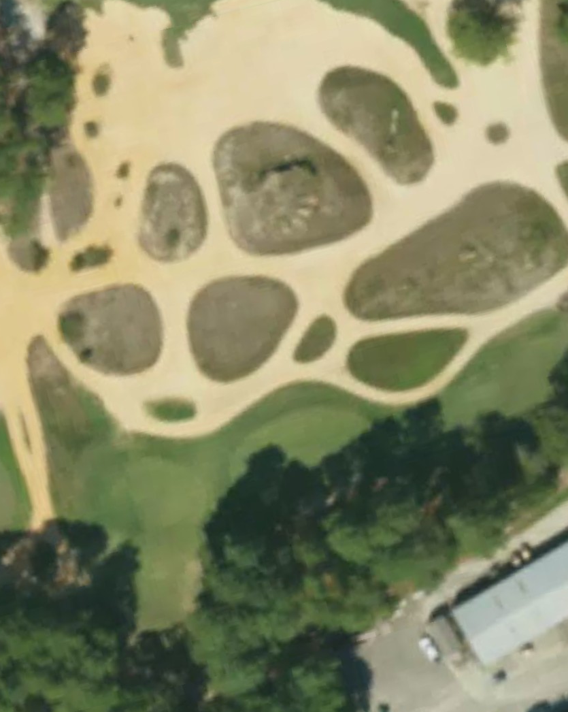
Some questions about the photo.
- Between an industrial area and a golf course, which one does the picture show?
golf course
